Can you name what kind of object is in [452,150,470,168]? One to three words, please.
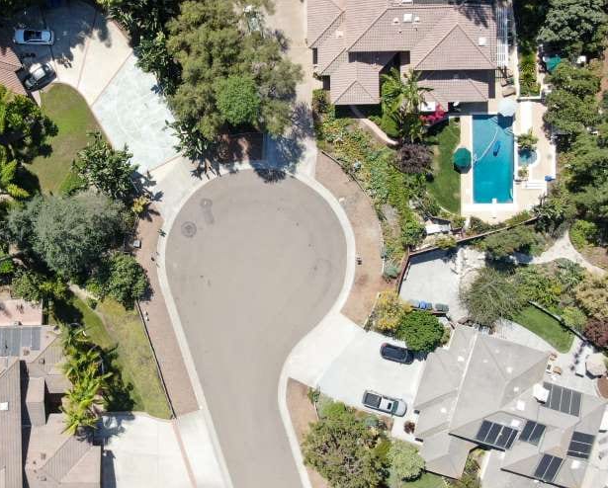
umbrella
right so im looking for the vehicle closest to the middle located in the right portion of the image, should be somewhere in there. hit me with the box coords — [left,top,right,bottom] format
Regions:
[379,343,415,364]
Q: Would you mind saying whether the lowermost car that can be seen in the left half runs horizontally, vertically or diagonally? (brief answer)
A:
diagonally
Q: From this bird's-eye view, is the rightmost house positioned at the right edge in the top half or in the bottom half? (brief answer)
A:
bottom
